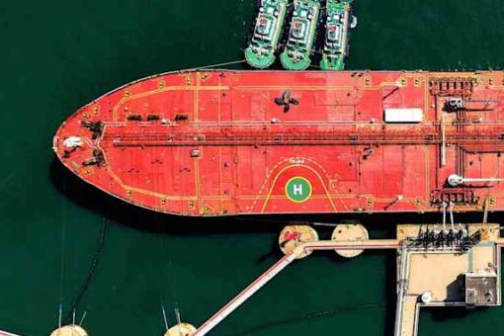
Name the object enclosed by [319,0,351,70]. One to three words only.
boat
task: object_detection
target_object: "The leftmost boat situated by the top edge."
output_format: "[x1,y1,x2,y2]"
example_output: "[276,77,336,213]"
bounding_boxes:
[243,0,289,70]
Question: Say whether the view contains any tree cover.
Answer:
No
